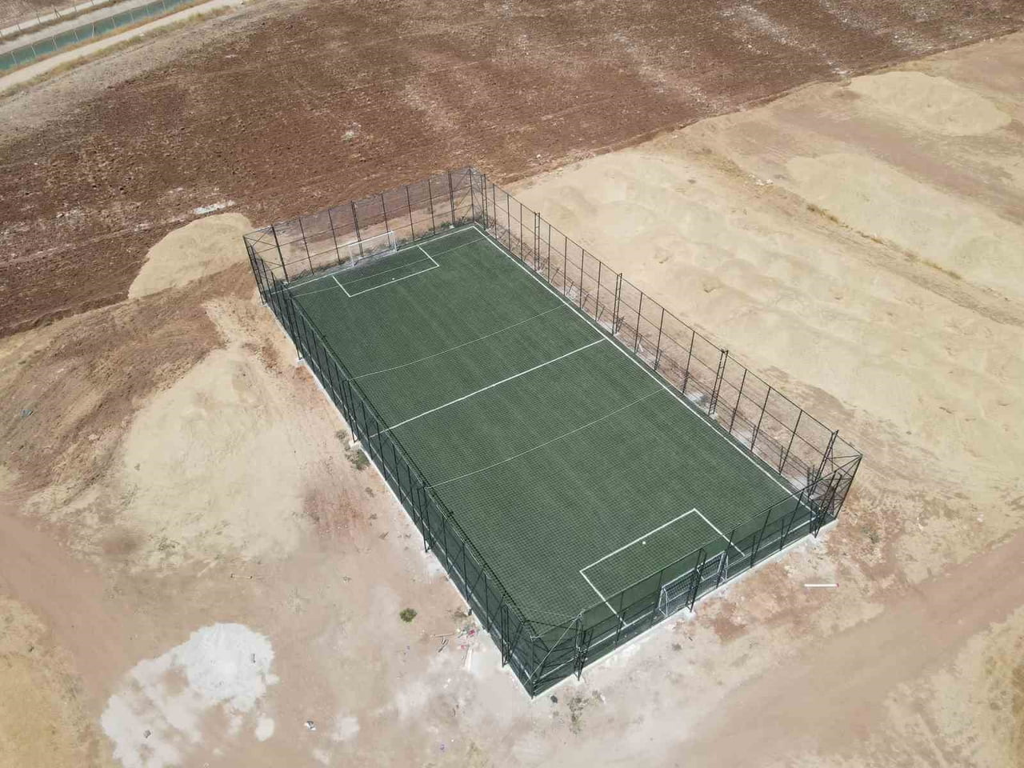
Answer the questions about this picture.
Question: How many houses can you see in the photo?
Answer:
0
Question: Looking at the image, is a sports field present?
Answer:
Yes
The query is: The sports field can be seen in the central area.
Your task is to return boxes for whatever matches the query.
[266,222,833,696]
